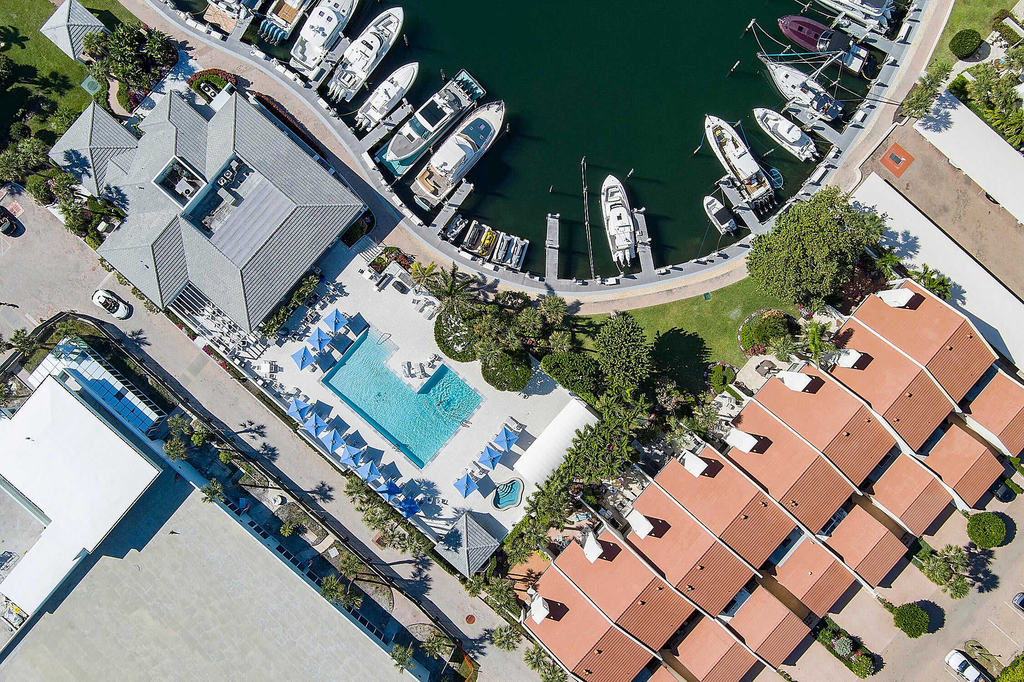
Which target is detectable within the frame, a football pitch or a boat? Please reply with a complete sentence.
Of the two, only a boat appears.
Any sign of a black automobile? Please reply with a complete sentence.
Yes, the frame does contain a black automobile.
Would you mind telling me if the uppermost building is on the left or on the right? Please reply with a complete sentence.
You can find the uppermost building on the left side of the picture.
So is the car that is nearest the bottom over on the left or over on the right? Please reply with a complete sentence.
You can find the car that is nearest the bottom on the right side of the picture.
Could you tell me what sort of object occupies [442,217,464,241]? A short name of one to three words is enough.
boat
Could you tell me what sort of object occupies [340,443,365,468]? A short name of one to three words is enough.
umbrella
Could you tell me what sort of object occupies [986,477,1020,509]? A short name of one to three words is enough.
car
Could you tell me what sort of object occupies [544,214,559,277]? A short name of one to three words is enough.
pier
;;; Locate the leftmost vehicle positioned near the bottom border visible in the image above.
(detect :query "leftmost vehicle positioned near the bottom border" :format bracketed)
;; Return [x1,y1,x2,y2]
[941,648,986,682]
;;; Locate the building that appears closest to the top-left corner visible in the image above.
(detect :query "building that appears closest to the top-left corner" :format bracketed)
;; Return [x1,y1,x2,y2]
[38,0,115,63]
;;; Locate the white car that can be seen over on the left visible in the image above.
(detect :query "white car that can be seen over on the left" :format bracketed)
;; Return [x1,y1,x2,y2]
[93,285,135,323]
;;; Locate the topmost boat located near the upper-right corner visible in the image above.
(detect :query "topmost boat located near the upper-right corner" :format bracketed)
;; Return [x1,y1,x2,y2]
[819,0,899,36]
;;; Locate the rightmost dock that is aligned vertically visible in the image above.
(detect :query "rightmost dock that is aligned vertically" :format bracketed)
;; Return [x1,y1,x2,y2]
[633,214,654,271]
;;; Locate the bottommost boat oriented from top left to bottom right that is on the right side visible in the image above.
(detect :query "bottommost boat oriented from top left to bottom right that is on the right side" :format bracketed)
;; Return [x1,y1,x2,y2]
[705,196,735,236]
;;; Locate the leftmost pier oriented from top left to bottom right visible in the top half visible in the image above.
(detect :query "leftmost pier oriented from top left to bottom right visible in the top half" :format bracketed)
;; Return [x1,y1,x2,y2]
[717,179,762,232]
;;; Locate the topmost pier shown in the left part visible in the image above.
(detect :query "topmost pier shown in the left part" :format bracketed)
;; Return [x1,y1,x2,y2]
[227,0,264,42]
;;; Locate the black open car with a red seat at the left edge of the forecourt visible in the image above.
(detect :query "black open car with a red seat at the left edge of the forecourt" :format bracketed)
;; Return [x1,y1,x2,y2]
[0,201,22,241]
